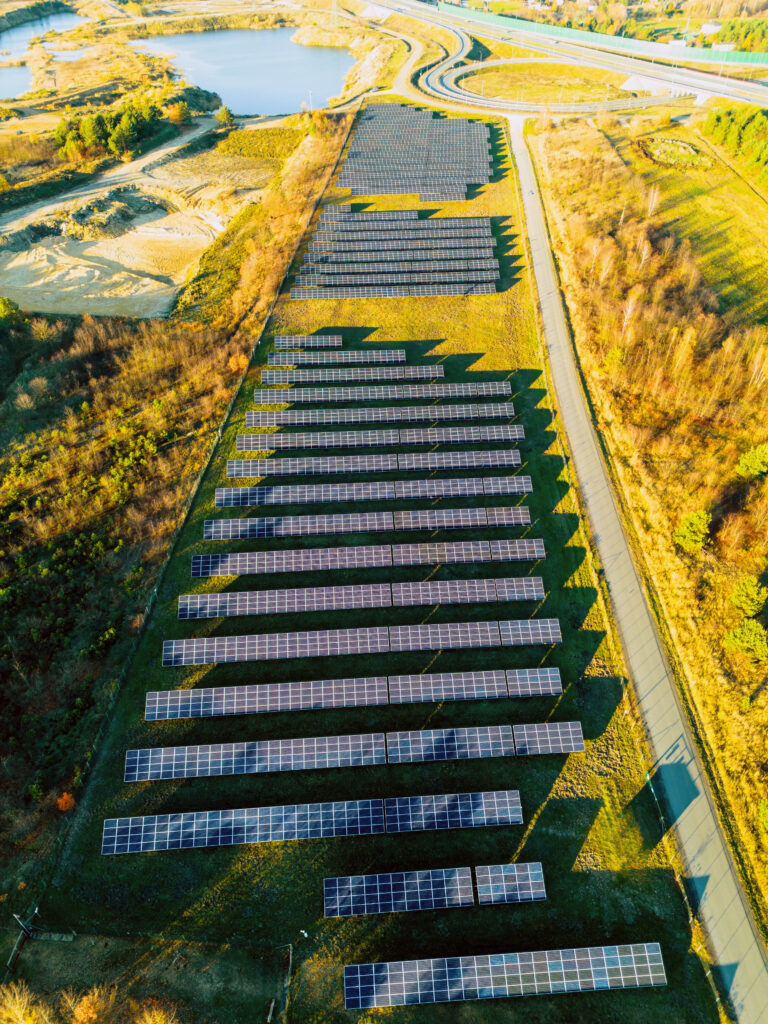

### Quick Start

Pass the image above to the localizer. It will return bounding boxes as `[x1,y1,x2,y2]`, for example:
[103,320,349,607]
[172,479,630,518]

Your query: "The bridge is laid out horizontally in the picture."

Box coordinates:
[619,75,716,105]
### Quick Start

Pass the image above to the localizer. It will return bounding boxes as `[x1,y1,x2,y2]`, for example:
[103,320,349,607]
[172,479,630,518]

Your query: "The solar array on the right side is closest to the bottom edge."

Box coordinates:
[345,942,666,1011]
